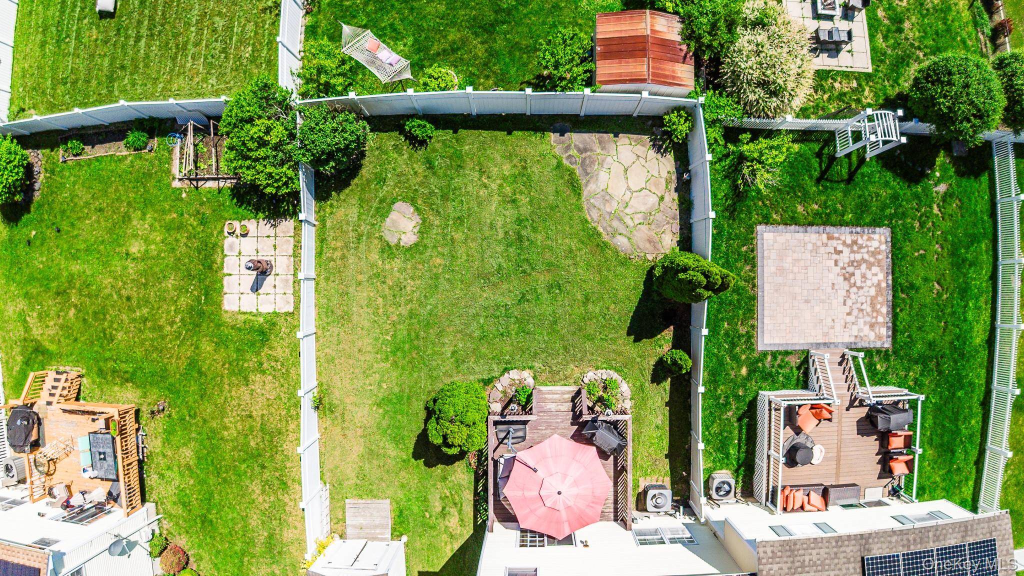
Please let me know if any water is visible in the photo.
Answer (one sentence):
No, no water is visible.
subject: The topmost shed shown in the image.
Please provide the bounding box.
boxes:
[591,10,695,105]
